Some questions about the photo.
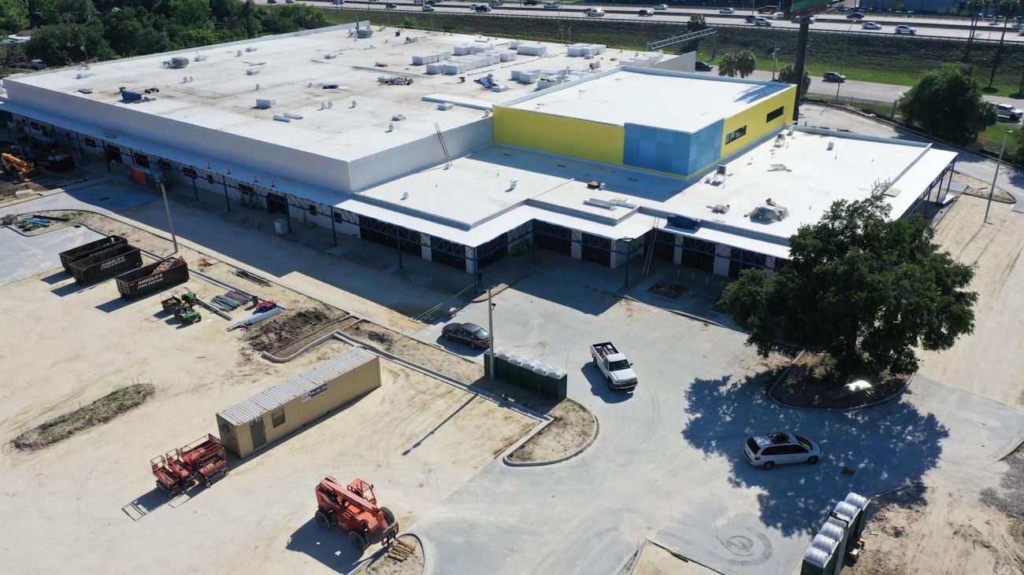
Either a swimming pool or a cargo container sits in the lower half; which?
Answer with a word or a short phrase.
cargo container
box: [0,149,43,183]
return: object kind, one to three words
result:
work vehicle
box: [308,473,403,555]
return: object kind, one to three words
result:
work vehicle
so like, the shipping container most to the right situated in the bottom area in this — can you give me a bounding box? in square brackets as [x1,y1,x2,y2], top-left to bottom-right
[216,347,381,459]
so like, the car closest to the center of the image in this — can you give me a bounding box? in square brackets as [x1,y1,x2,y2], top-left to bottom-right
[447,319,497,349]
